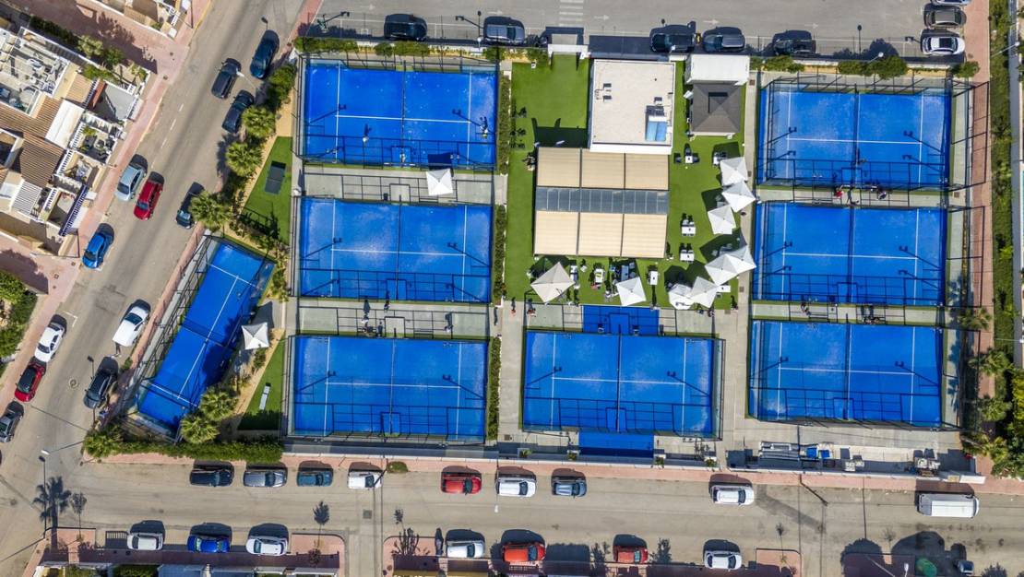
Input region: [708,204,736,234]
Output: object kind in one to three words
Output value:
umbrella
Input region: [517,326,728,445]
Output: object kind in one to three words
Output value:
sports court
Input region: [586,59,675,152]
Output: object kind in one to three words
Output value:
building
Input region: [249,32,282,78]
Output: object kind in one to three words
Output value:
car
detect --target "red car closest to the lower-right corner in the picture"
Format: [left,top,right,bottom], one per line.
[613,544,649,566]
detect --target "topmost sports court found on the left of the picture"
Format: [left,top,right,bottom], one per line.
[294,45,505,174]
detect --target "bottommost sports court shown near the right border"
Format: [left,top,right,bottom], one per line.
[745,316,980,435]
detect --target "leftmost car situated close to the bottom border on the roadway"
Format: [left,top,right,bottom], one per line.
[126,530,167,552]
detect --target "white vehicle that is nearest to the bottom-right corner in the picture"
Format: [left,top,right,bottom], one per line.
[912,493,974,520]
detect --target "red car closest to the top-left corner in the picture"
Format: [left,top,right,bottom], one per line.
[133,176,167,220]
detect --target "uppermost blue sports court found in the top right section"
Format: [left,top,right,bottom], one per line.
[753,69,990,196]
